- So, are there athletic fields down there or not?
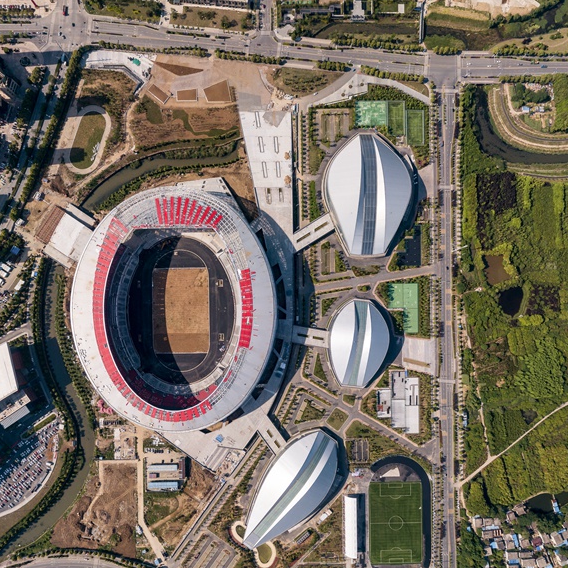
Yes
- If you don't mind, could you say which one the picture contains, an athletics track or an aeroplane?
athletics track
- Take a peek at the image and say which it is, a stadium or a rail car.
stadium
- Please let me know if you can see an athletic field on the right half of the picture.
Yes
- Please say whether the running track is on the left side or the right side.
left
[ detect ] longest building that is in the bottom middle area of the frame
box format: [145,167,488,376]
[240,426,338,548]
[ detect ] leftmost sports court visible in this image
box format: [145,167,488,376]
[355,99,388,127]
